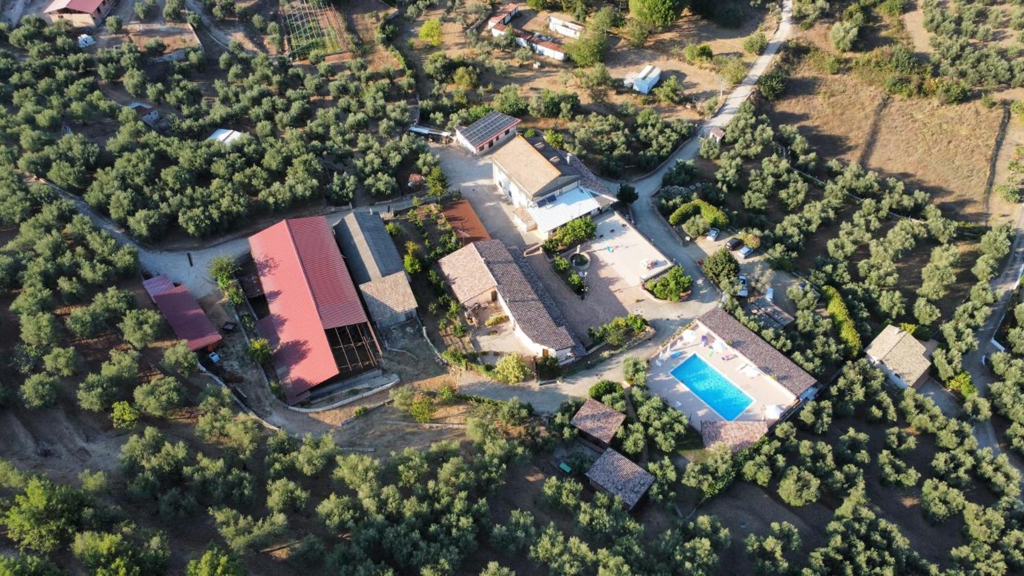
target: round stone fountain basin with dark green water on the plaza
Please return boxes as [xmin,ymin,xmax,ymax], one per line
[568,251,590,268]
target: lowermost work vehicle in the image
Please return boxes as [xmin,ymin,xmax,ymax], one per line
[206,348,223,366]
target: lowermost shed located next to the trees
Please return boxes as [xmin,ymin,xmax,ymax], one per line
[585,447,655,516]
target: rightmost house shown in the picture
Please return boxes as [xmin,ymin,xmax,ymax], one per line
[865,325,931,395]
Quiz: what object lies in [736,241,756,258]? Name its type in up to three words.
car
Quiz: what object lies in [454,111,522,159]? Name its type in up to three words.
house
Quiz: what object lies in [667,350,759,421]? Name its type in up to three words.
swimming pool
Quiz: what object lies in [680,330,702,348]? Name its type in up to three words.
umbrella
